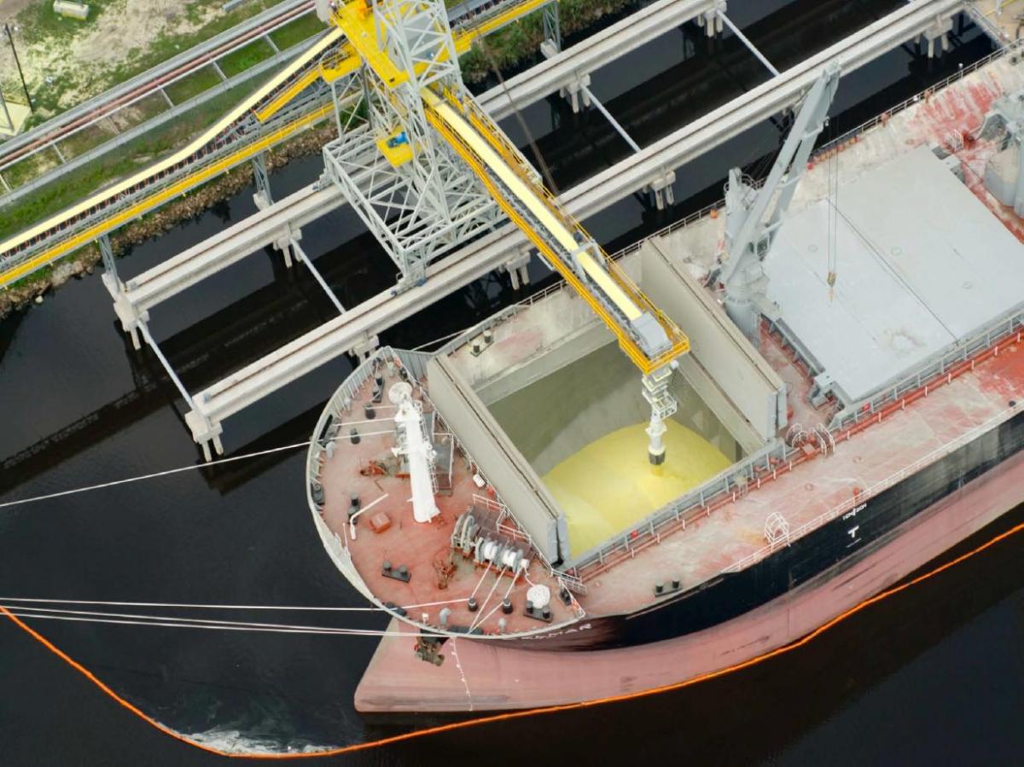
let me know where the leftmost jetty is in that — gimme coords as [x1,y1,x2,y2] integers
[102,0,970,462]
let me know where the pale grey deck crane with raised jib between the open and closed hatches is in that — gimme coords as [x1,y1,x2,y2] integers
[706,57,842,359]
